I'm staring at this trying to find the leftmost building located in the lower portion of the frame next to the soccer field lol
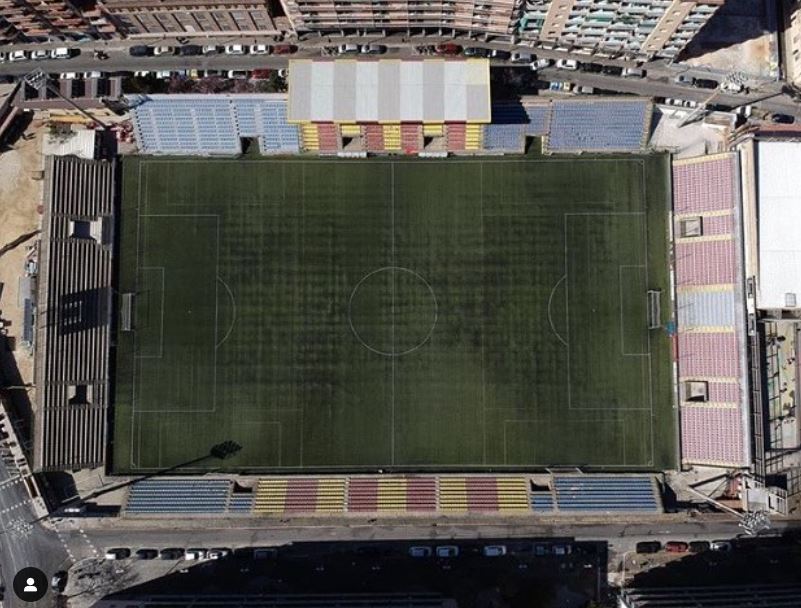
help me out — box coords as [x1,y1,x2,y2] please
[0,347,63,524]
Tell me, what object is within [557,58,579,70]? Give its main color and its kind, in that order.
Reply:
white vehicle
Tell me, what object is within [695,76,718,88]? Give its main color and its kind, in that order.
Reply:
black vehicle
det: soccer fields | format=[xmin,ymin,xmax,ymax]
[107,133,681,474]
